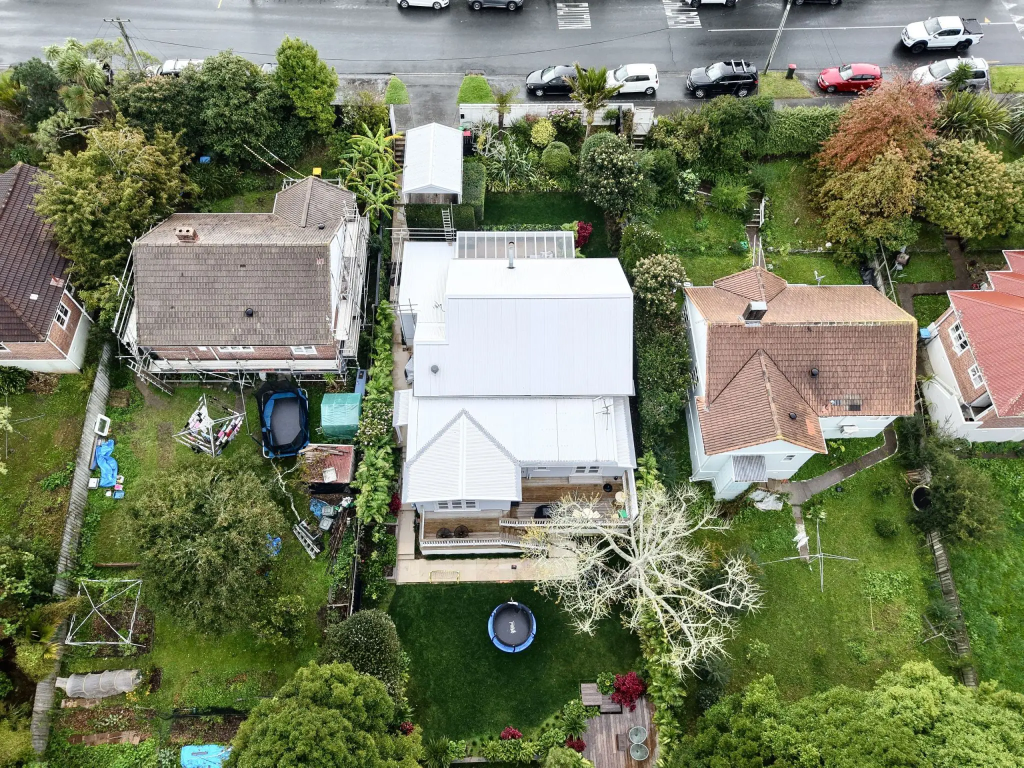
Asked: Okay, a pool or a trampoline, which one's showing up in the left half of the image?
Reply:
trampoline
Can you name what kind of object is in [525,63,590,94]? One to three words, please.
car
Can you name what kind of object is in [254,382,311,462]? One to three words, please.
trampoline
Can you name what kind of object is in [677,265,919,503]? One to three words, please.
house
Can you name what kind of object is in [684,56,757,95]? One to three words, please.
car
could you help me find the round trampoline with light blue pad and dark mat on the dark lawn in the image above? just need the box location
[489,601,537,656]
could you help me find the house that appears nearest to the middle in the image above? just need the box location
[393,242,636,518]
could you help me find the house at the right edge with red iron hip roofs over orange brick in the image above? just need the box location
[931,248,1024,441]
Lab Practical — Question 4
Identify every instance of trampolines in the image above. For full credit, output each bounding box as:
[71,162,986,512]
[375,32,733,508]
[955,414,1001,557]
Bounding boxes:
[254,382,311,462]
[489,601,537,656]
